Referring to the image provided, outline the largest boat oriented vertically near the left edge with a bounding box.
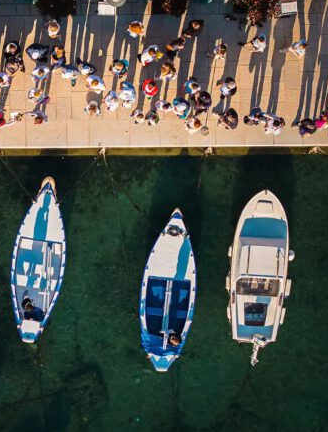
[9,176,66,343]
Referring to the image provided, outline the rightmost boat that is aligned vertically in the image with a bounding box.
[229,189,290,367]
